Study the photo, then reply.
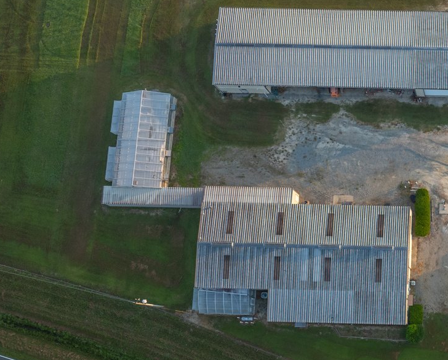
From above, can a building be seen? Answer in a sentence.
Yes, a building can be made out from above.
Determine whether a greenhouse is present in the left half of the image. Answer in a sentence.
Yes, a greenhouse shows up in the left half of the image.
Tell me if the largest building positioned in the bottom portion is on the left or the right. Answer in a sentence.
You can find the largest building positioned in the bottom portion on the right side of the picture.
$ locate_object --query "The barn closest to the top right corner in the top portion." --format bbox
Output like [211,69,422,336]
[212,6,448,98]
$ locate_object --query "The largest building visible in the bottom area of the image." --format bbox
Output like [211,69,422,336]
[194,186,412,326]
